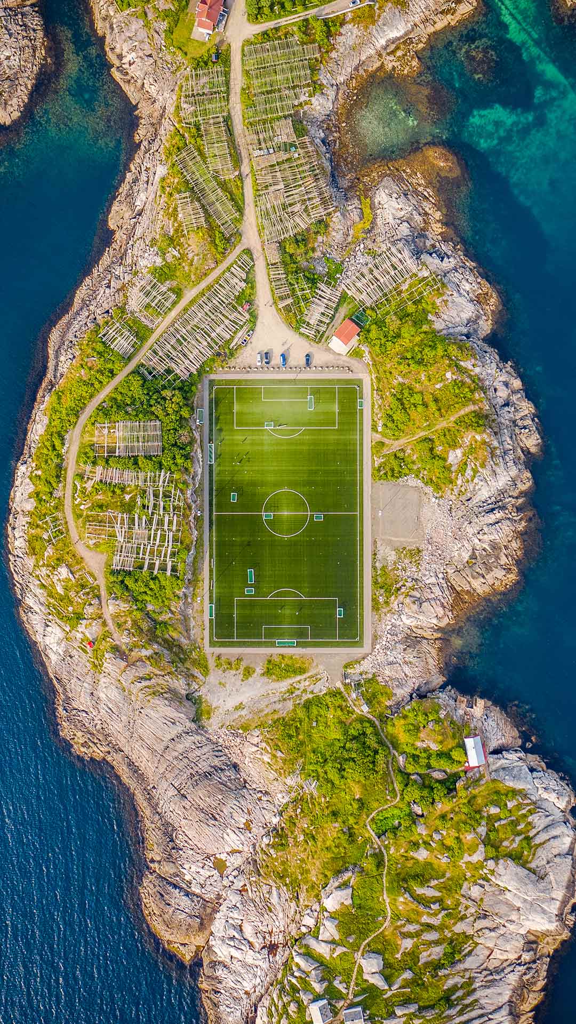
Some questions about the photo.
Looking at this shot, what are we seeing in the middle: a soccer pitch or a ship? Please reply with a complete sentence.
Visible in the middle is a soccer pitch.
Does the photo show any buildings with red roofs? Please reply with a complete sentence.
Yes, a building with a red roof appears in the view.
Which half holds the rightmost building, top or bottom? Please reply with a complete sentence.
The bottom half of the photo is where the rightmost building is.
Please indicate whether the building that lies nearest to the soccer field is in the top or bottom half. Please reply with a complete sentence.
The building that lies nearest to the soccer field sits in the top half of the picture.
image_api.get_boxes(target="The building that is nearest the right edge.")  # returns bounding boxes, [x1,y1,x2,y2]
[465,735,487,771]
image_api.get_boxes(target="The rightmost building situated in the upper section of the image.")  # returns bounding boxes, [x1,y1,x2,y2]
[328,318,361,355]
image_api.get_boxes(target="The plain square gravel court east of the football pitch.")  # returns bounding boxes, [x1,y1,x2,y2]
[372,482,423,547]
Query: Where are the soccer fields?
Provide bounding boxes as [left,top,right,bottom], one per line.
[203,372,371,653]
